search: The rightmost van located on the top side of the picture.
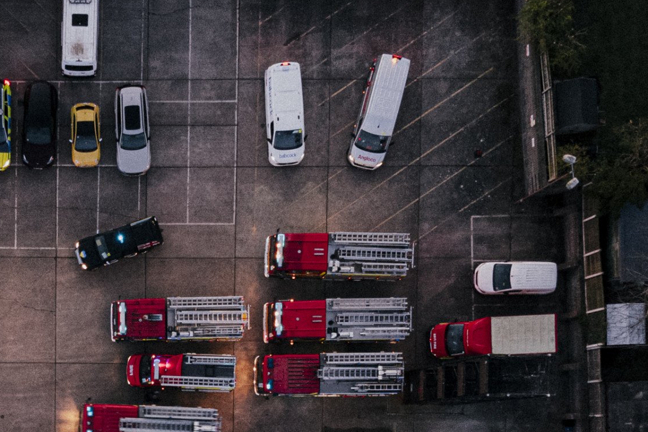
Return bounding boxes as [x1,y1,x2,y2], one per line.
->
[353,50,417,172]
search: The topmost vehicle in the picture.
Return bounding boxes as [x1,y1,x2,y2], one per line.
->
[62,0,98,75]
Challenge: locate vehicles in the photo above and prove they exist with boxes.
[109,292,247,348]
[259,293,410,349]
[68,104,104,168]
[473,258,562,297]
[126,352,237,390]
[265,58,307,167]
[353,50,417,172]
[249,347,405,403]
[0,80,14,171]
[62,0,98,75]
[76,395,220,432]
[73,215,165,271]
[423,312,564,357]
[112,85,153,175]
[19,80,59,170]
[260,227,413,283]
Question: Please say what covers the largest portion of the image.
paved ground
